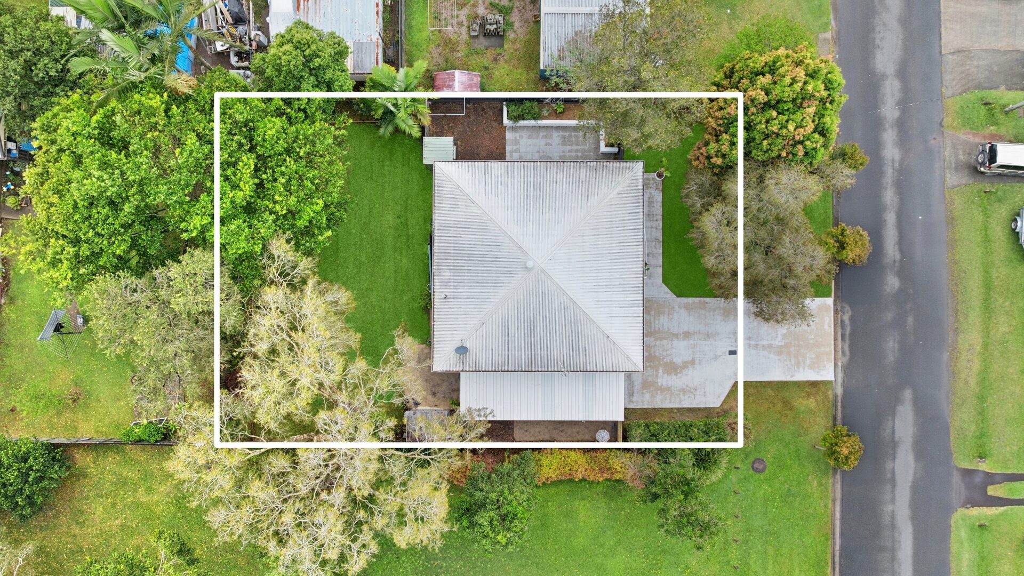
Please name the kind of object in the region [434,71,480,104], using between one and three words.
shed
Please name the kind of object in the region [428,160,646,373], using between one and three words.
house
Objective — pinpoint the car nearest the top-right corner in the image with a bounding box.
[973,142,1024,177]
